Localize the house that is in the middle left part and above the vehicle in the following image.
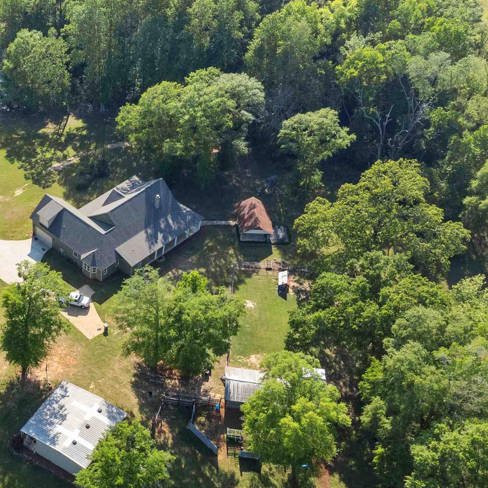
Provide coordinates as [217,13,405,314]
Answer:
[25,176,205,280]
